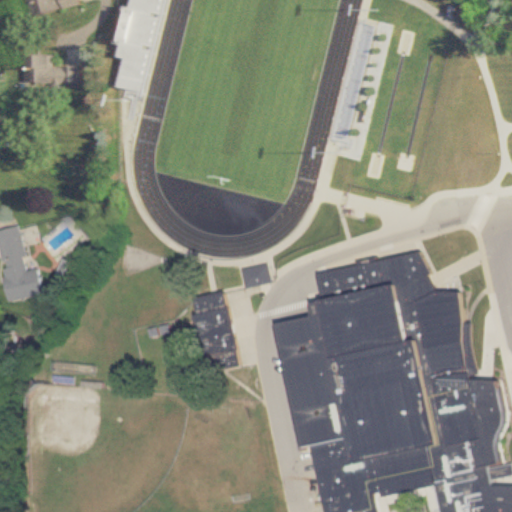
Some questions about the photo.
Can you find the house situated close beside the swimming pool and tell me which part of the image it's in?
left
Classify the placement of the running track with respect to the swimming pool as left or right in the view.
on the right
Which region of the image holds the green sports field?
top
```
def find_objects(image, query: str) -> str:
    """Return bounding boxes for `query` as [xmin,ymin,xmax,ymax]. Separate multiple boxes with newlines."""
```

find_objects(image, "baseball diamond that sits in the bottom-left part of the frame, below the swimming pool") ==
[26,384,122,512]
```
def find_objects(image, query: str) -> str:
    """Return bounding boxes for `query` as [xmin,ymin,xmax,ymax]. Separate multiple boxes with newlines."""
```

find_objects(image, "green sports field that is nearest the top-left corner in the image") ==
[154,0,340,204]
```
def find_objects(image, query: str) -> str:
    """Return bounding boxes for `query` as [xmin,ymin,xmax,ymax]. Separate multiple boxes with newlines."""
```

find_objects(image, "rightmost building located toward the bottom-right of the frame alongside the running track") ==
[272,250,512,512]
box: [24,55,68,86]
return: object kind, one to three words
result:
house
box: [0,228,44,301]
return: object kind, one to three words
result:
house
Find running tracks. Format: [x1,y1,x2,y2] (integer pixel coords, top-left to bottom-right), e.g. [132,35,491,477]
[132,0,362,256]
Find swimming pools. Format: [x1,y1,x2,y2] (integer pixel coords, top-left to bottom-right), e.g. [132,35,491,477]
[42,217,90,264]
